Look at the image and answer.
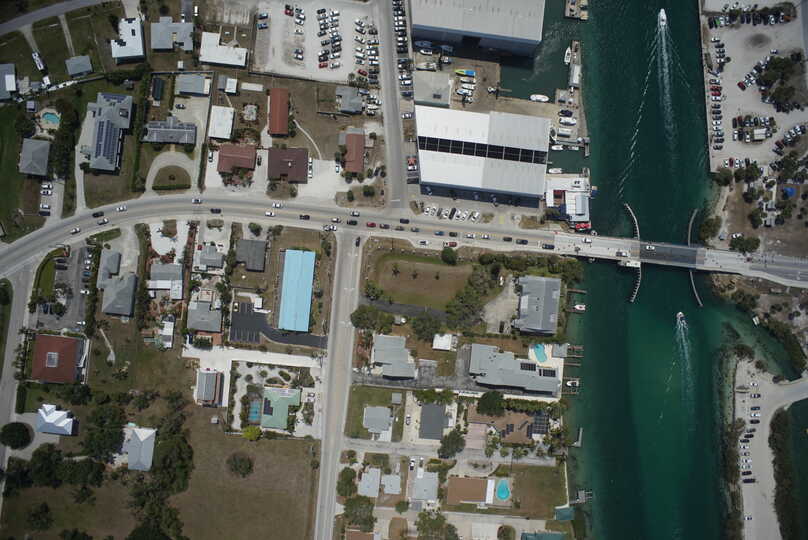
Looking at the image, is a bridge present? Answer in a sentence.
Yes, the picture does show a bridge.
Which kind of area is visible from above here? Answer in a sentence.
The picture captures a residential area.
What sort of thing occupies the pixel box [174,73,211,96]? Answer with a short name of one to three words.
shed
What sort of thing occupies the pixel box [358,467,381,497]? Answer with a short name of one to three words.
house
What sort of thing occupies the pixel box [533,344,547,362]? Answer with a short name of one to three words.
swimming pool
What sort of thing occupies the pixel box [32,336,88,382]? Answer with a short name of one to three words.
building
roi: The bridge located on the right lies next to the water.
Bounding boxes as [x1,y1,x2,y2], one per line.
[548,231,757,276]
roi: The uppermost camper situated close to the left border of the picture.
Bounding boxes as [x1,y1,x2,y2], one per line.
[31,51,46,71]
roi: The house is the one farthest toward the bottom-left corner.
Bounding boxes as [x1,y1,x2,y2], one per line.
[36,401,77,435]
